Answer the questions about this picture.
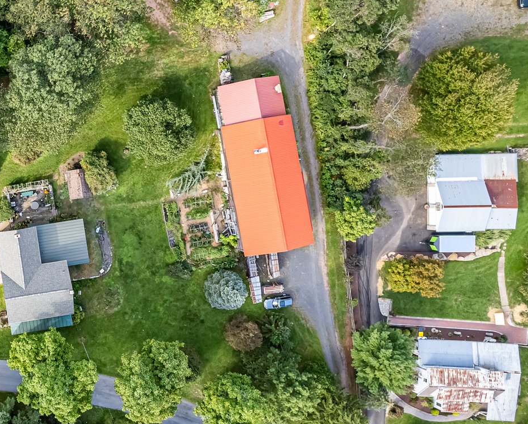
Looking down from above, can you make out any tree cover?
Yes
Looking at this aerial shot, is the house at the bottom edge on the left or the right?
right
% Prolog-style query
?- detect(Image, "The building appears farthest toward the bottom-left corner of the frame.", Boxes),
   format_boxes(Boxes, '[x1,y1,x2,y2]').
[0,219,90,334]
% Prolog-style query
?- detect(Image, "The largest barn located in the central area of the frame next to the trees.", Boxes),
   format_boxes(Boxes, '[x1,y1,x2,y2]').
[217,114,313,256]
